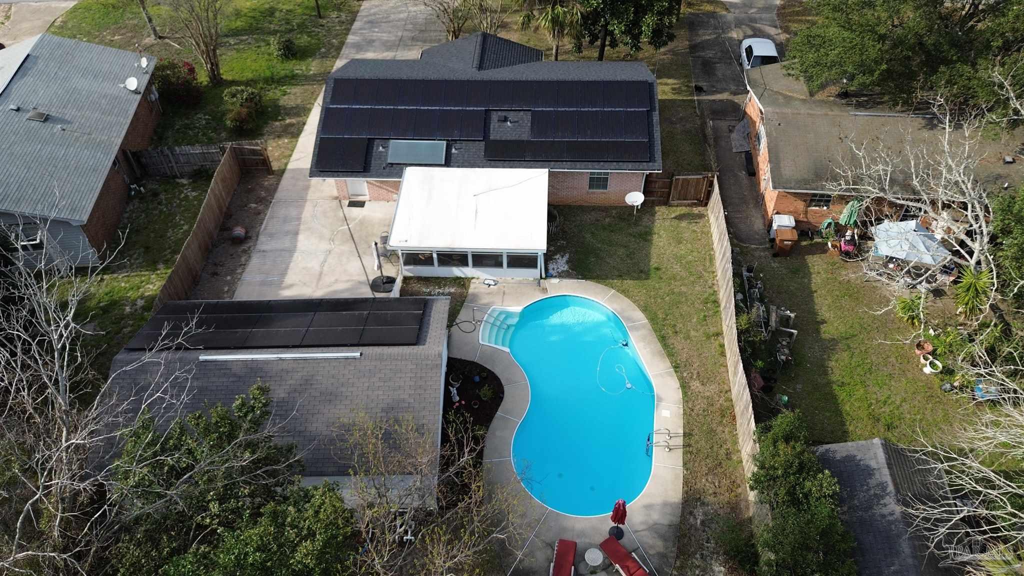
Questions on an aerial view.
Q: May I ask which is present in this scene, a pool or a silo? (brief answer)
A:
pool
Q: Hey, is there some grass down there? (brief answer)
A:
Yes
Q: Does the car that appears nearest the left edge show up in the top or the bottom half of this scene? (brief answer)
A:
top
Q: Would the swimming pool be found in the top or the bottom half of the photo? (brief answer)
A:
bottom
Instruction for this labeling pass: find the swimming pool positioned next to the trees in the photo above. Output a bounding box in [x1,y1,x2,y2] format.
[476,294,670,517]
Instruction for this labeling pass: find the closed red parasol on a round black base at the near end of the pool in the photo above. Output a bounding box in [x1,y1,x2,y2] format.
[608,496,629,541]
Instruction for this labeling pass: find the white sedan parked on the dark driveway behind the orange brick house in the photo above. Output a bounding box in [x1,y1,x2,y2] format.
[734,38,777,69]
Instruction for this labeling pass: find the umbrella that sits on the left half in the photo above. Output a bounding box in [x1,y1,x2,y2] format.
[368,245,393,298]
